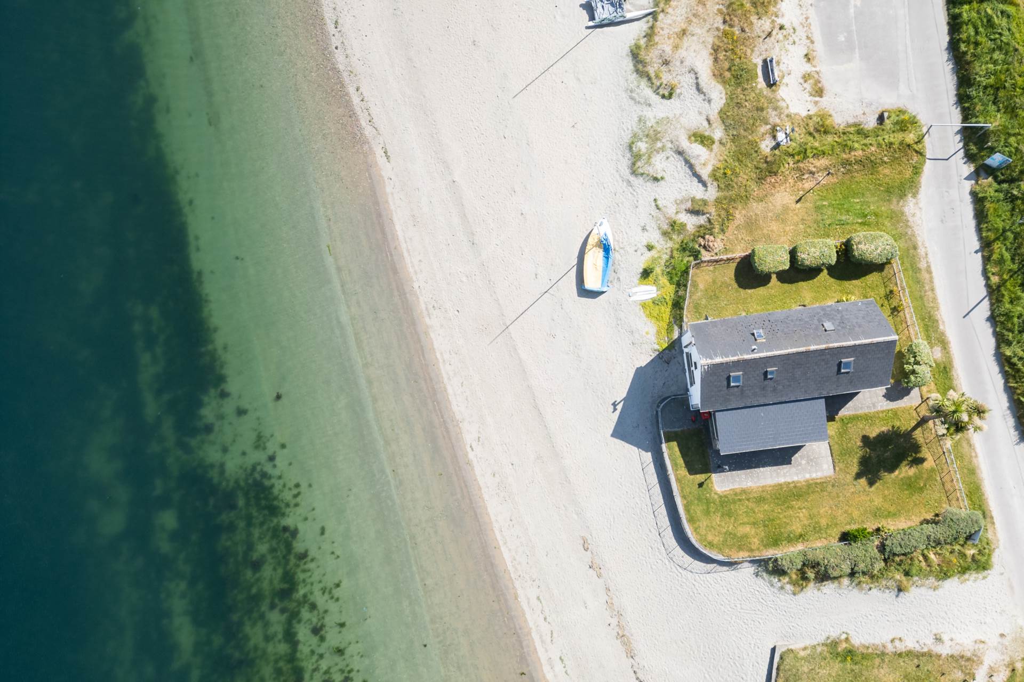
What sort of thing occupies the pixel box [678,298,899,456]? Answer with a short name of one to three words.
house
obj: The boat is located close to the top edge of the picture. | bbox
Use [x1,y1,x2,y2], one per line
[586,0,656,27]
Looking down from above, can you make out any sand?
Yes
